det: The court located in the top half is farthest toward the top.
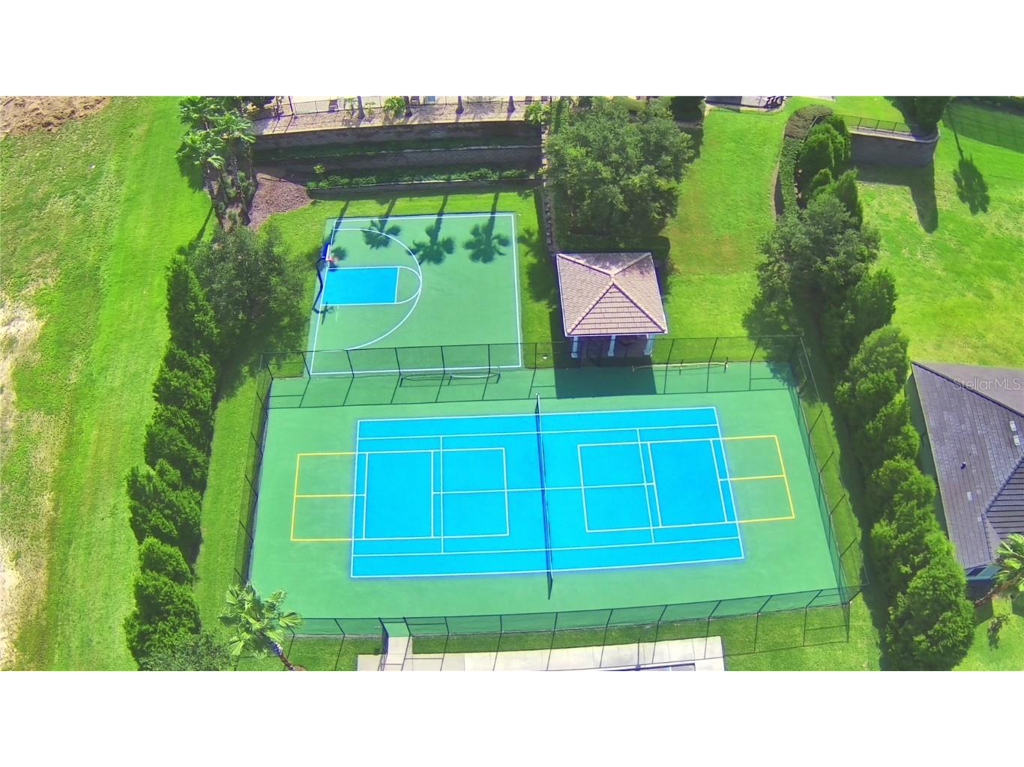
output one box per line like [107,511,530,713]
[304,212,523,376]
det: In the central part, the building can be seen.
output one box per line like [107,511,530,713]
[556,251,668,364]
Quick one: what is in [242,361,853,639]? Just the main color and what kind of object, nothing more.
green tennis court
